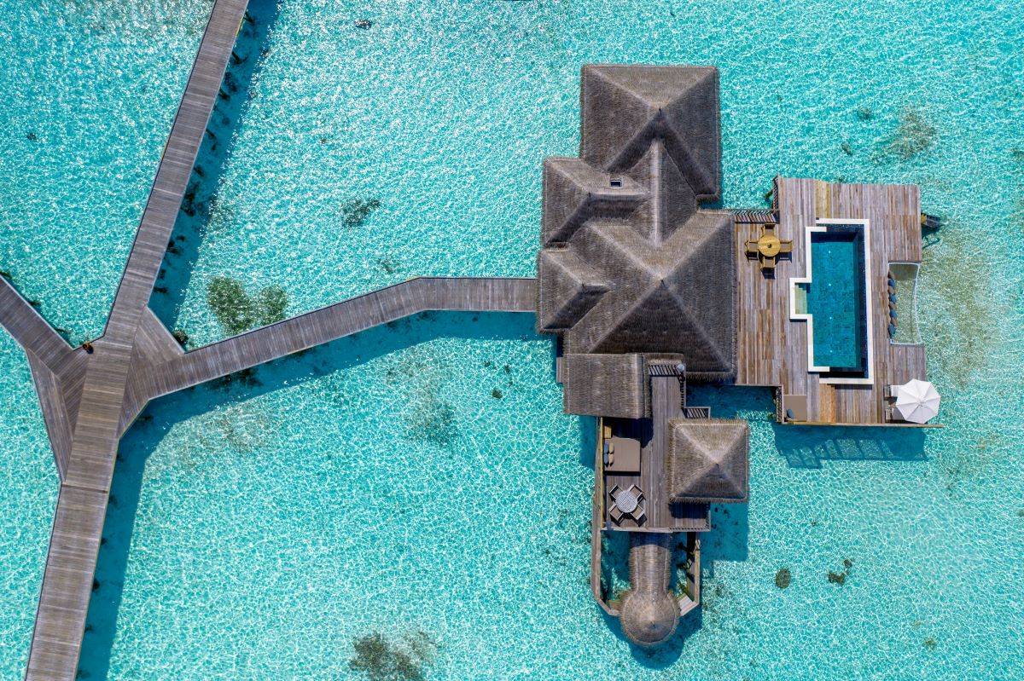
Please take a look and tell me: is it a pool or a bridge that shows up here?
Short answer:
pool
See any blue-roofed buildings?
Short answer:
No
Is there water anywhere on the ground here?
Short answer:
Yes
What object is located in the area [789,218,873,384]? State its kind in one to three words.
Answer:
swimming pool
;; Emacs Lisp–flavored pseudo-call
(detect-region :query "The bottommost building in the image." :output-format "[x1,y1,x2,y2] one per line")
[618,531,683,652]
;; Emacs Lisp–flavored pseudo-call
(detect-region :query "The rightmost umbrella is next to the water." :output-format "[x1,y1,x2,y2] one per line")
[890,378,939,424]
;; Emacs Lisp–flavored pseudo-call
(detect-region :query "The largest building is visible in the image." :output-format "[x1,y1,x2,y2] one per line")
[534,63,738,421]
